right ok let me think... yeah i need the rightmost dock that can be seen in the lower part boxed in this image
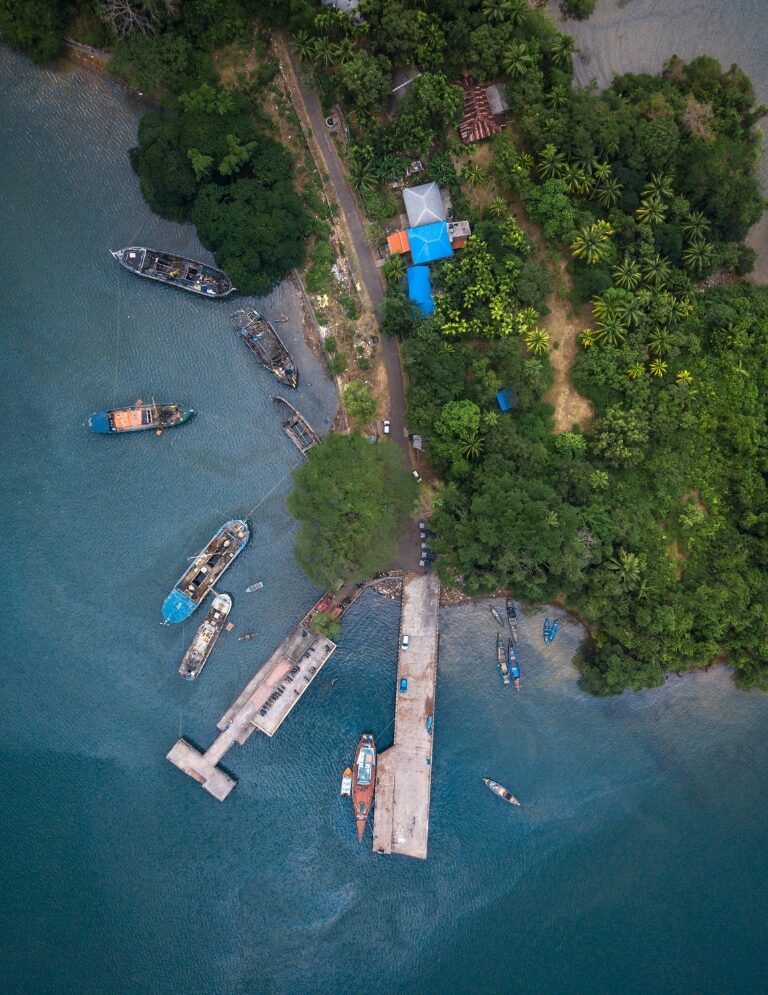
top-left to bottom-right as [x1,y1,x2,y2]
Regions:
[373,576,440,859]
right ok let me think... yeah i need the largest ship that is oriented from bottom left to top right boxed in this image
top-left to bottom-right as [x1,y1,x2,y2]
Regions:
[160,520,251,625]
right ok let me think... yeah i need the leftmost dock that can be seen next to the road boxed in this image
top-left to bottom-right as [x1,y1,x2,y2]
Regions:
[166,575,402,801]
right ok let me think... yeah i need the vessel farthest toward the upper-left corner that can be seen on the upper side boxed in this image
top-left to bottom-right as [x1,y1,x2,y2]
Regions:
[107,245,238,298]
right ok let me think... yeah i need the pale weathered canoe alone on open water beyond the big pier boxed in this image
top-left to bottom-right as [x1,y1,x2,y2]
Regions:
[484,778,520,806]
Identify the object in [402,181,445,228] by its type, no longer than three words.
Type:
house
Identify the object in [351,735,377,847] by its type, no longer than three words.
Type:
ship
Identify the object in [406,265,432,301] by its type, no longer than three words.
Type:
house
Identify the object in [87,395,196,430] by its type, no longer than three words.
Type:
ship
